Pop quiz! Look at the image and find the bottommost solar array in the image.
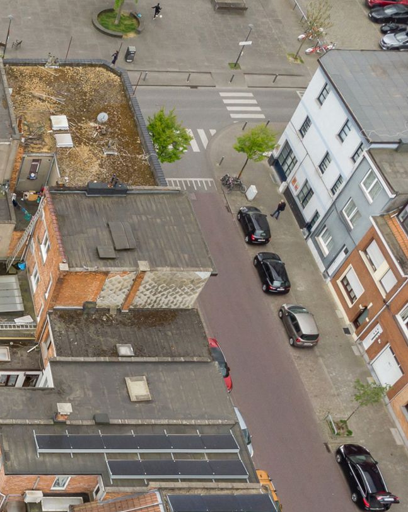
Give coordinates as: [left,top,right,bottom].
[164,491,275,512]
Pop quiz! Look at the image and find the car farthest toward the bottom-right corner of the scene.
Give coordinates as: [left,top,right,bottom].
[334,443,407,512]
